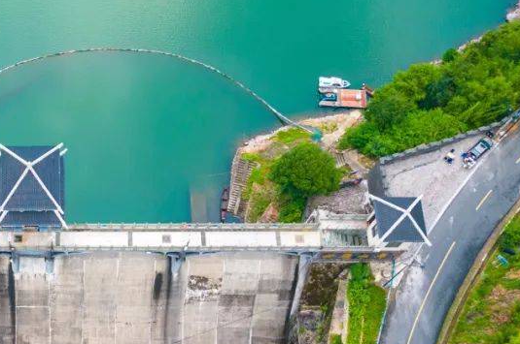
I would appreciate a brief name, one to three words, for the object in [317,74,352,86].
boat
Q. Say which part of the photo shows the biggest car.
right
